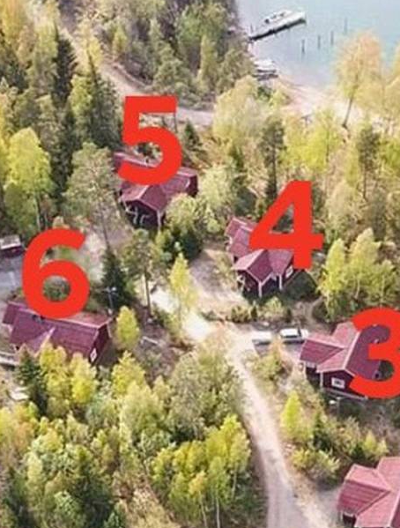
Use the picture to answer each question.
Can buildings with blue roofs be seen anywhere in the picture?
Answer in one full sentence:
No, the scene contains no building with a blue roof.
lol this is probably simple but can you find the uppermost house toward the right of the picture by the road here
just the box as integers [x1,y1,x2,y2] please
[221,213,307,291]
